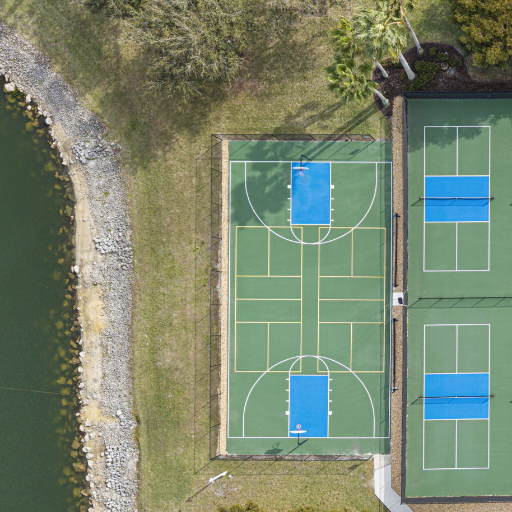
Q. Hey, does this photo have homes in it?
No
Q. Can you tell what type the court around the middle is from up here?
basketball court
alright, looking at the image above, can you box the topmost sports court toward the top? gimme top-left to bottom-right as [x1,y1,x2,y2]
[423,125,491,271]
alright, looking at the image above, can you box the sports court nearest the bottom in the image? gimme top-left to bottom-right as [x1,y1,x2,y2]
[423,324,491,469]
